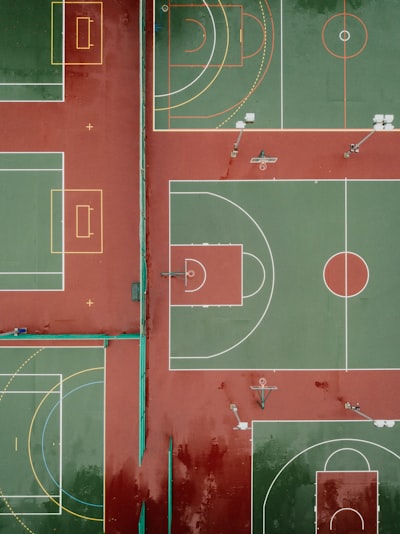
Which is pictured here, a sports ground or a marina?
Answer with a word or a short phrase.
sports ground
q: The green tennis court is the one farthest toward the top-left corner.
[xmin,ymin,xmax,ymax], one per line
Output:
[0,0,102,102]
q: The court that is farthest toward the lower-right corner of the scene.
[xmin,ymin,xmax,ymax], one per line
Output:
[248,420,400,534]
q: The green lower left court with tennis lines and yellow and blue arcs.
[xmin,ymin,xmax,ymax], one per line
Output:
[0,347,105,534]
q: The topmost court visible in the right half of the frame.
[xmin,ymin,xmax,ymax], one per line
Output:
[153,0,400,131]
